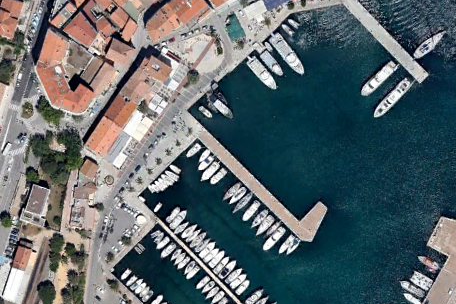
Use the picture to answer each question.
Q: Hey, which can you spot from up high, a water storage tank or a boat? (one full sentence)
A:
Of the two, only a boat appears.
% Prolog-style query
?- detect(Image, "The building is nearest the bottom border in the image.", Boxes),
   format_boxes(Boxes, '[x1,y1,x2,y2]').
[3,268,26,302]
